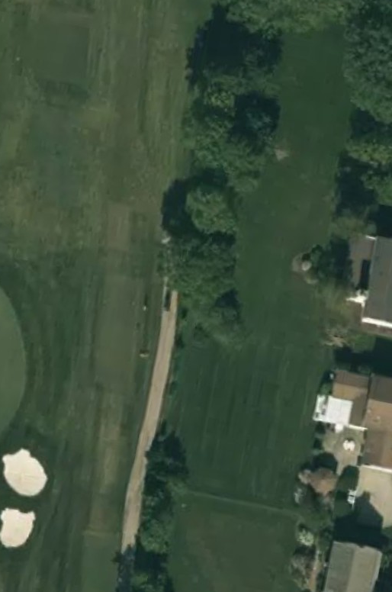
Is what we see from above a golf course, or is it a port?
golf course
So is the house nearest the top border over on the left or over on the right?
right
